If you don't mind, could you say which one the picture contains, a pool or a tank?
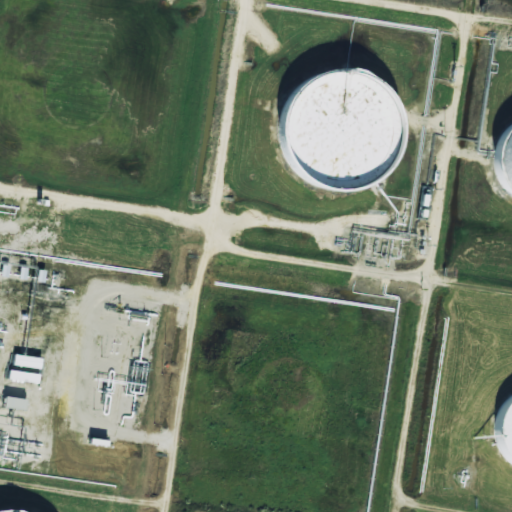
tank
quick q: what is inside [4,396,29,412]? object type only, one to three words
shed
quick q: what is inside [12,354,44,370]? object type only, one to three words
shed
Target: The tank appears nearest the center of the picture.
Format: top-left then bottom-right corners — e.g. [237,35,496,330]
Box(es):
[278,69,408,193]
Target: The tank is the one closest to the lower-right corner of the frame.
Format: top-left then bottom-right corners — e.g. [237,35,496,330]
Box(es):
[474,394,512,468]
